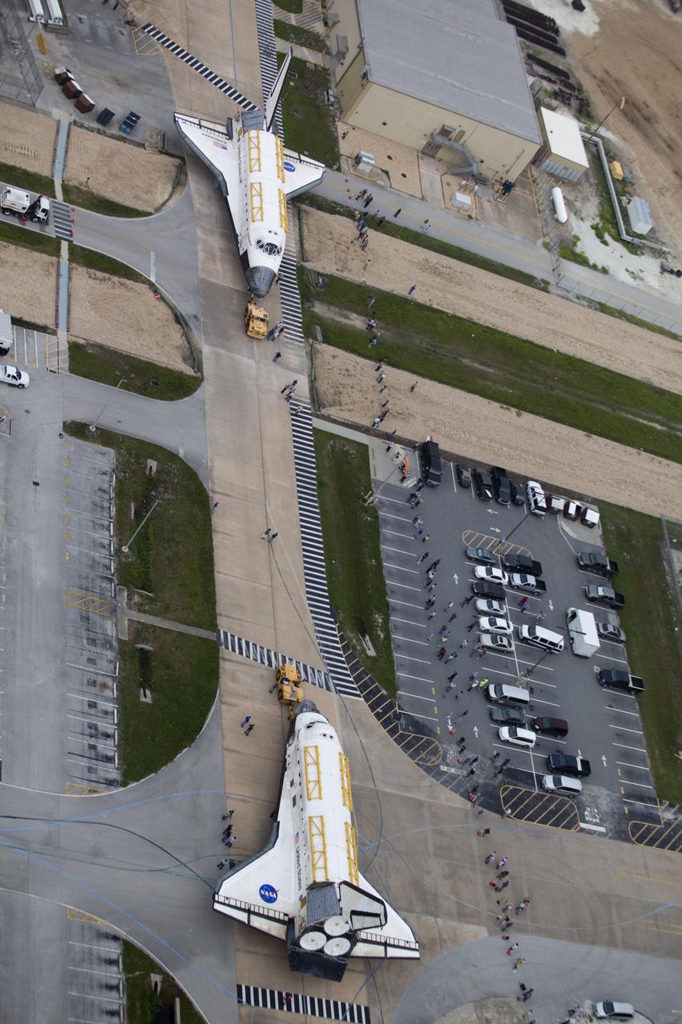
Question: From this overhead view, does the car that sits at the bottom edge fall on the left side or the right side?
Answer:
right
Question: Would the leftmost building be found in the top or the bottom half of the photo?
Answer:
top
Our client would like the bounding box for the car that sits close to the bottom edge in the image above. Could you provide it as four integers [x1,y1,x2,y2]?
[593,998,635,1023]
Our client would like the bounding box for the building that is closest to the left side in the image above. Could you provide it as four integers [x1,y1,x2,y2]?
[318,0,546,182]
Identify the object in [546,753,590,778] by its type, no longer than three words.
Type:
truck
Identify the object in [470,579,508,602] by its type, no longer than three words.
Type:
car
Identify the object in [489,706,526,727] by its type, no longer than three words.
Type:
car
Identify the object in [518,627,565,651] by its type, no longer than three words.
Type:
vehicle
